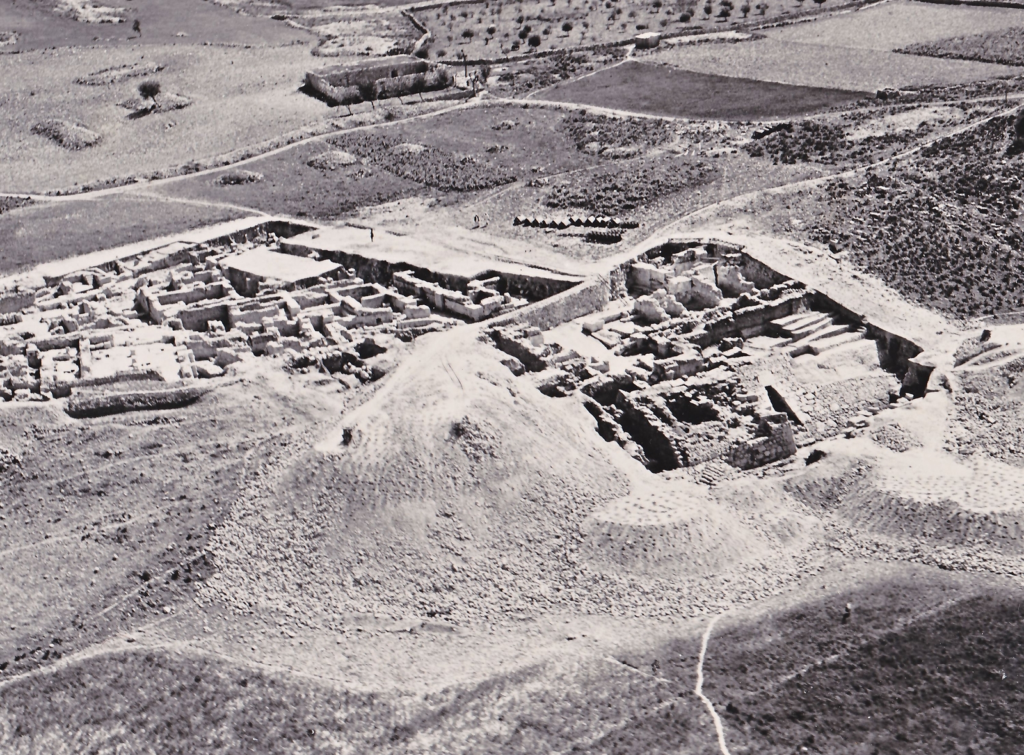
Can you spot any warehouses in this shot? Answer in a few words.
No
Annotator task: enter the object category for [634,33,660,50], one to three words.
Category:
shed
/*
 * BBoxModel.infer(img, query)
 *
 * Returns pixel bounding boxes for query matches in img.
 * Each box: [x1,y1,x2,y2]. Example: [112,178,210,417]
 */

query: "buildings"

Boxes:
[634,33,660,50]
[305,57,428,92]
